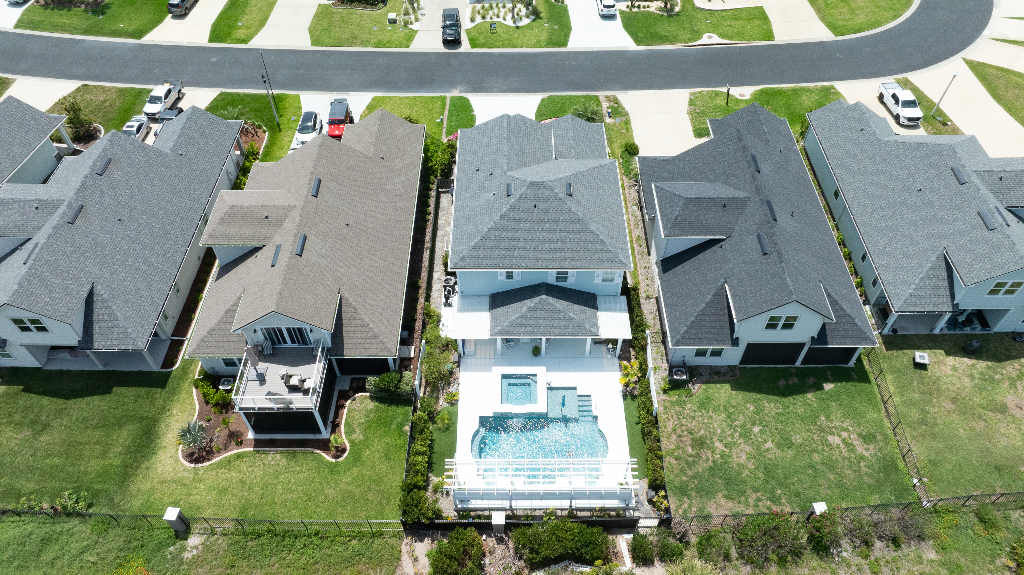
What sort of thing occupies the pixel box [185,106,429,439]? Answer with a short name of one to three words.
house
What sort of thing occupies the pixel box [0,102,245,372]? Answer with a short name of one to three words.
house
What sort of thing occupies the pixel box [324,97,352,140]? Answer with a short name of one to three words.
car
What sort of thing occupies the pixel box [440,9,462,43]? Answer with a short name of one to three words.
truck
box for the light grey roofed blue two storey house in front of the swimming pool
[446,115,634,357]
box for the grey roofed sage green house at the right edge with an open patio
[805,99,1024,334]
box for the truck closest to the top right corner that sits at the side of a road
[876,82,925,126]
